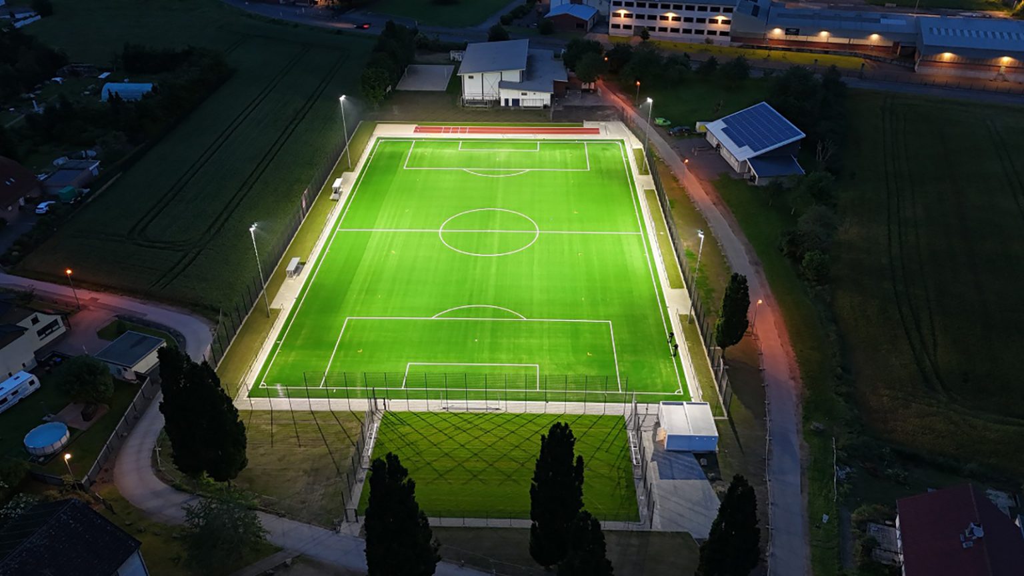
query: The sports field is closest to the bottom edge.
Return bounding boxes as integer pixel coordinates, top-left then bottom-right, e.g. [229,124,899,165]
[357,411,641,520]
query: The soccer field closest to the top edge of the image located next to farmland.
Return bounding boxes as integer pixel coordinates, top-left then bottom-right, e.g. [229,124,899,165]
[250,136,692,403]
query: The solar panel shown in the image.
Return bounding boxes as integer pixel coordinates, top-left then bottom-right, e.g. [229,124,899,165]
[722,103,802,153]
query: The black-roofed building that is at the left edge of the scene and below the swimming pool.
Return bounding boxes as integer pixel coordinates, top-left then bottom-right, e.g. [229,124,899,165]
[0,499,141,576]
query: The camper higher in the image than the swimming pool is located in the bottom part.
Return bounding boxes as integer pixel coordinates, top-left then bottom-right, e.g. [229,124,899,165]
[0,372,37,411]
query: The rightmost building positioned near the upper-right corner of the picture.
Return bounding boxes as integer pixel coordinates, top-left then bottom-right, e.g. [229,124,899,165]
[915,16,1024,81]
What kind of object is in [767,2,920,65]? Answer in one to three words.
building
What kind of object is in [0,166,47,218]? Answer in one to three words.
house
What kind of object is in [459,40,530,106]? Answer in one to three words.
building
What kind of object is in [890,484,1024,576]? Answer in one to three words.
house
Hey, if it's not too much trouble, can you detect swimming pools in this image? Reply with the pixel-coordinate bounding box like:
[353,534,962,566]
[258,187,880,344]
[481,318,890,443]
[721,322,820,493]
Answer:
[23,421,73,457]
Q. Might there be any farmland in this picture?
Yes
